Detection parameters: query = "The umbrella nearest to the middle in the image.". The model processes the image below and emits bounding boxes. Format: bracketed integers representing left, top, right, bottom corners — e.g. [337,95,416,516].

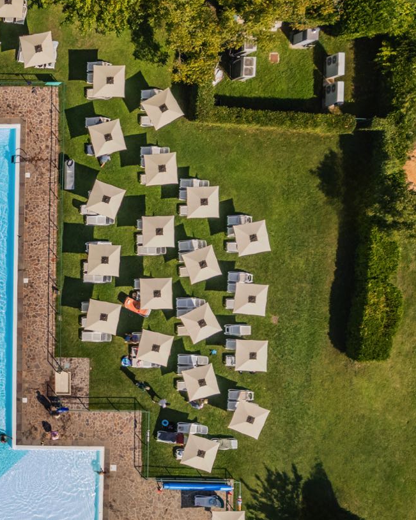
[180,243,221,284]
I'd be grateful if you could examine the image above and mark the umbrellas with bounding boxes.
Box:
[140,87,182,131]
[183,186,217,219]
[179,431,218,471]
[230,219,267,256]
[84,180,125,220]
[86,120,122,156]
[177,301,221,344]
[84,297,121,334]
[139,214,173,247]
[180,362,218,401]
[138,278,170,310]
[85,242,119,276]
[135,328,173,367]
[229,280,266,315]
[229,339,266,371]
[19,31,55,68]
[209,510,243,520]
[141,152,176,187]
[180,243,221,284]
[225,398,267,439]
[89,65,121,97]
